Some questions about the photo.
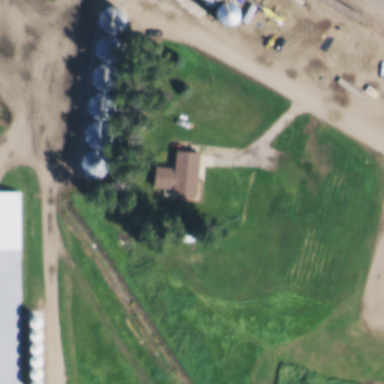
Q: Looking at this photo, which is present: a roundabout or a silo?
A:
silo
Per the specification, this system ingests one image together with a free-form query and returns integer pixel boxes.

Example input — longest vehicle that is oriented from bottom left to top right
[242,4,260,26]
